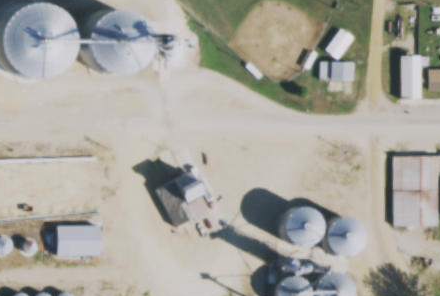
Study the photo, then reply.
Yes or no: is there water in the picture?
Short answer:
No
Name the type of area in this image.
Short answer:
industrial area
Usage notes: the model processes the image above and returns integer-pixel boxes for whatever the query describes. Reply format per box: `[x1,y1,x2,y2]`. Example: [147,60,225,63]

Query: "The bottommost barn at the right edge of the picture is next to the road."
[391,156,440,226]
